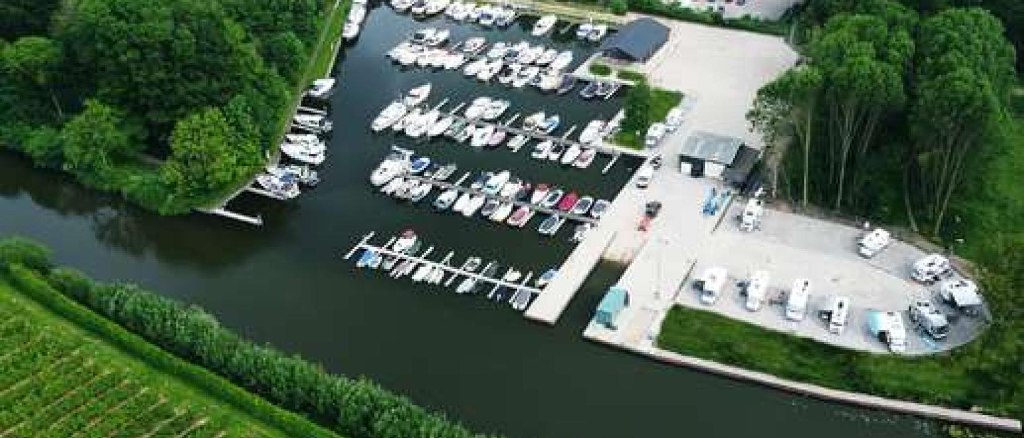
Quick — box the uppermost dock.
[408,41,567,74]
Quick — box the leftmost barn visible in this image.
[597,19,673,65]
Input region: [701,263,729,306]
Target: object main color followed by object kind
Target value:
white camper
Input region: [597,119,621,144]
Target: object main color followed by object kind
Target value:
white boat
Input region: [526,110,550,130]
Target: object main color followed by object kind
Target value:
white boat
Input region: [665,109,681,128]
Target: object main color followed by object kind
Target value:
white vehicle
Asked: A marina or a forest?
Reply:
marina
